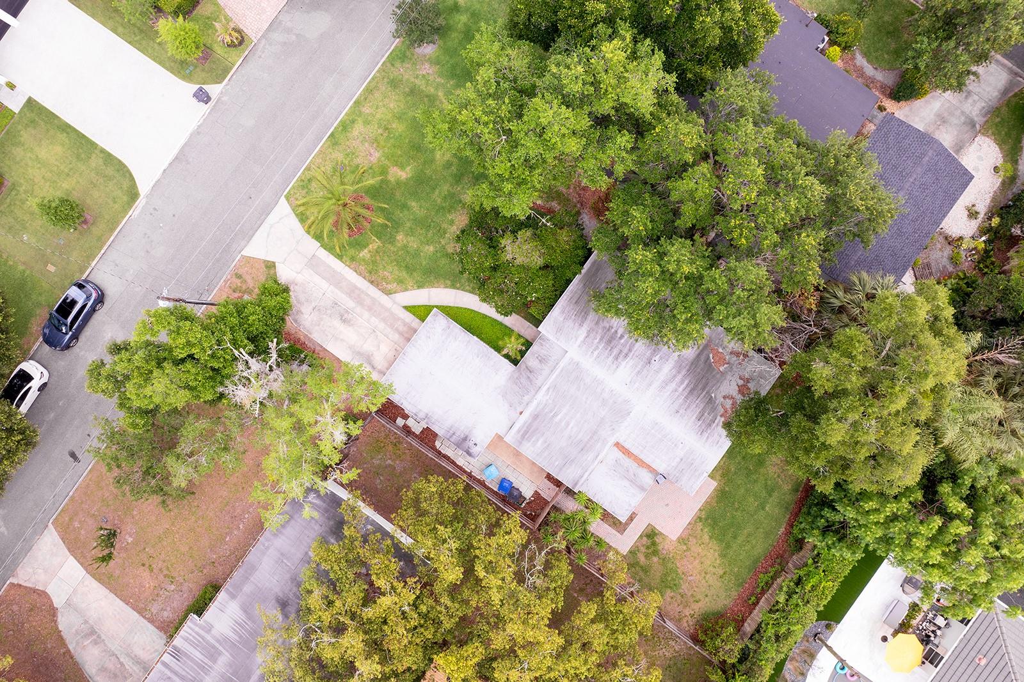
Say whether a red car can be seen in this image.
No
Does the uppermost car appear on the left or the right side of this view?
left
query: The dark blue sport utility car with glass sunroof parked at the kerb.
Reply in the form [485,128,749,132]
[39,282,106,356]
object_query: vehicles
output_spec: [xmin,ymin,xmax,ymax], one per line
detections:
[39,282,106,356]
[0,364,49,435]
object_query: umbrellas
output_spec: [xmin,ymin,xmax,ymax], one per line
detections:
[879,632,925,674]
